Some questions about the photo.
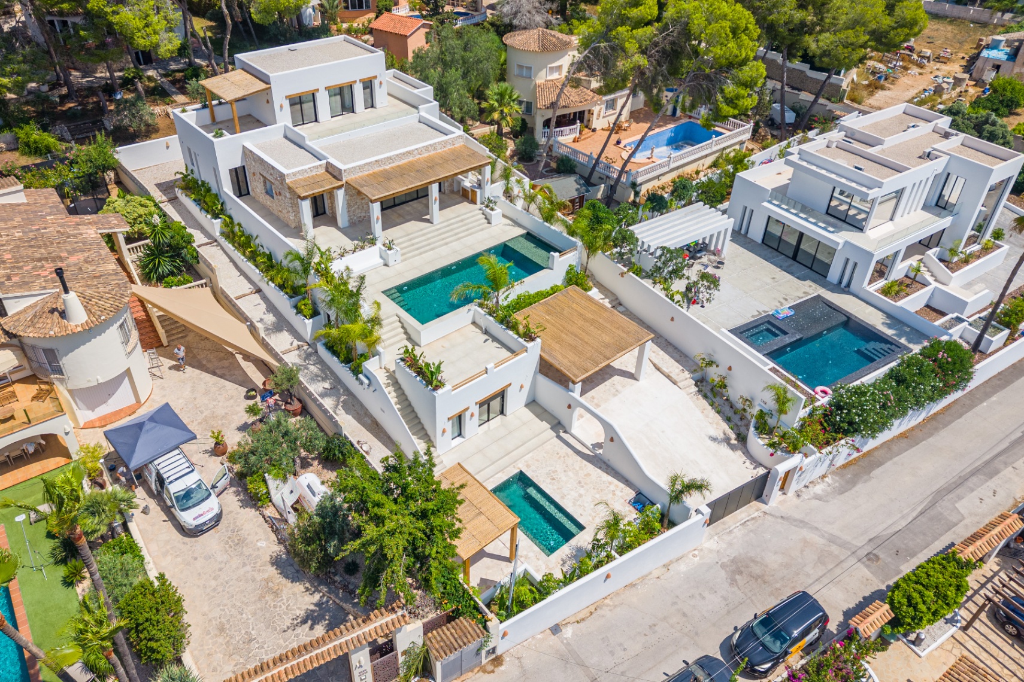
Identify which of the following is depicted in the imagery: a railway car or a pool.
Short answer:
pool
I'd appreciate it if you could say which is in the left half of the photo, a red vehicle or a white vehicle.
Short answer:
white vehicle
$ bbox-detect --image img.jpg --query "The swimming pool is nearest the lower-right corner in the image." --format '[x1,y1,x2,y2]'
[733,293,913,393]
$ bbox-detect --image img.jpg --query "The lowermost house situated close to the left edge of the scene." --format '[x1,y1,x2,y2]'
[0,174,159,502]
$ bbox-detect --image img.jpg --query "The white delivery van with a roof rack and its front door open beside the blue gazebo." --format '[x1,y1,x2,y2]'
[151,454,228,536]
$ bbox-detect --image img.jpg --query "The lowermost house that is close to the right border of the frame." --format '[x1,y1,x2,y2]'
[723,102,1024,293]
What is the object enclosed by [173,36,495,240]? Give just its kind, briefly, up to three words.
house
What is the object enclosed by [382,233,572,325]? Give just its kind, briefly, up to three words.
swimming pool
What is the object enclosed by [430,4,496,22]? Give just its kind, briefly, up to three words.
swimming pool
